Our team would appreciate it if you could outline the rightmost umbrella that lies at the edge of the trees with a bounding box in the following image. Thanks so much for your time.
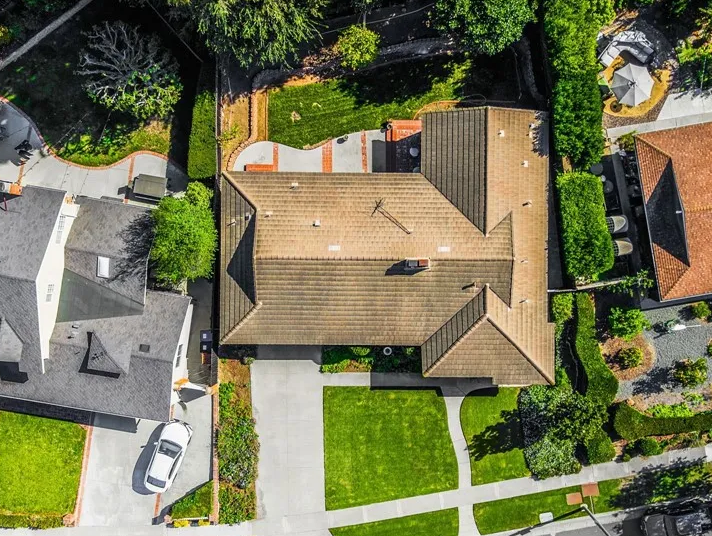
[609,66,650,108]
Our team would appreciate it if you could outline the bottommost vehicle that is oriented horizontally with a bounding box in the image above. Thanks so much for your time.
[639,496,712,536]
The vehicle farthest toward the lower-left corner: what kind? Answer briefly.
automobile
